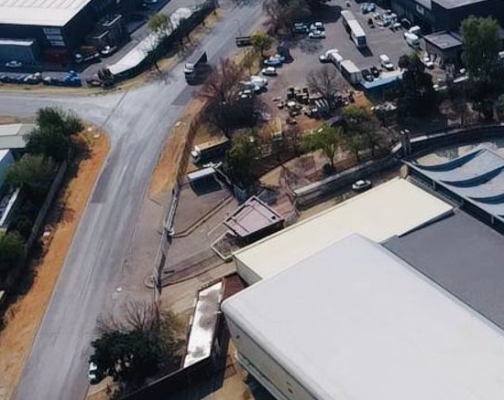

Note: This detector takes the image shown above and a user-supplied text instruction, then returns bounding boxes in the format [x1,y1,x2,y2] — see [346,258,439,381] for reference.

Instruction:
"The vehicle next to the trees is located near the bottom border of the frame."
[86,360,100,382]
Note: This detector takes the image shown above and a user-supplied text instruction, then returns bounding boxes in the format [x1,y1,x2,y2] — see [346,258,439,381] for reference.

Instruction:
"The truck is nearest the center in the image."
[188,136,231,162]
